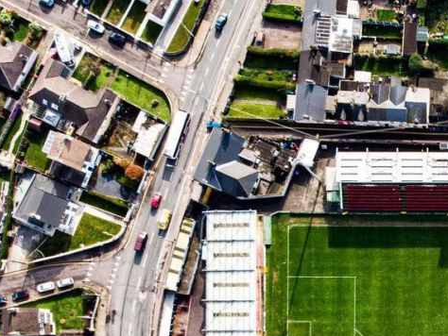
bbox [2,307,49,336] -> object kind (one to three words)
house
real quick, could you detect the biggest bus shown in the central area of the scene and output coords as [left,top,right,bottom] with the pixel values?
[165,111,191,159]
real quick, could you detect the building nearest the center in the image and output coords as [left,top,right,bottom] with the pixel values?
[187,122,284,200]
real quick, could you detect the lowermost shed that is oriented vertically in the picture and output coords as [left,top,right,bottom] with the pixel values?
[154,291,177,336]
